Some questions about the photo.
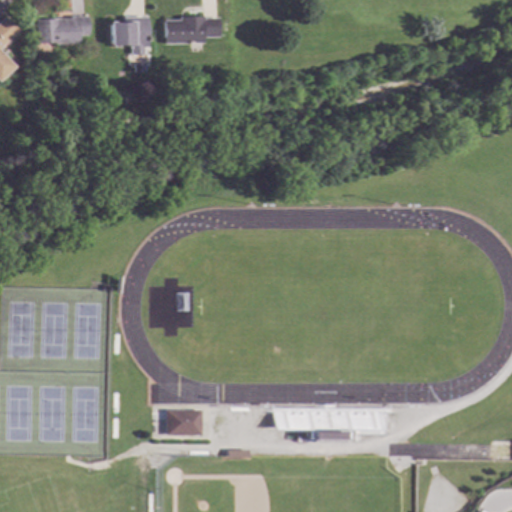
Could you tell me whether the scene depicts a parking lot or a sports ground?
sports ground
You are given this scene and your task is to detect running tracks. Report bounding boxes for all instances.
[120,206,512,406]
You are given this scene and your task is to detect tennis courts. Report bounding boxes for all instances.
[37,386,66,443]
[6,302,35,358]
[70,386,99,443]
[4,386,32,442]
[72,302,102,360]
[39,302,68,359]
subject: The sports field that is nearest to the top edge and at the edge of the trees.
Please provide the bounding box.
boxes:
[141,228,505,384]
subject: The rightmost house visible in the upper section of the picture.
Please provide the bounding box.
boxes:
[154,16,224,51]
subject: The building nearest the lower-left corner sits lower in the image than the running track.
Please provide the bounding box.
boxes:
[166,410,203,435]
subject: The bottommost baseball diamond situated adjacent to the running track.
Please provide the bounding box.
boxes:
[156,458,400,512]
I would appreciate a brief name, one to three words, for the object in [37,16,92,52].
house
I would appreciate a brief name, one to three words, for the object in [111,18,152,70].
house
